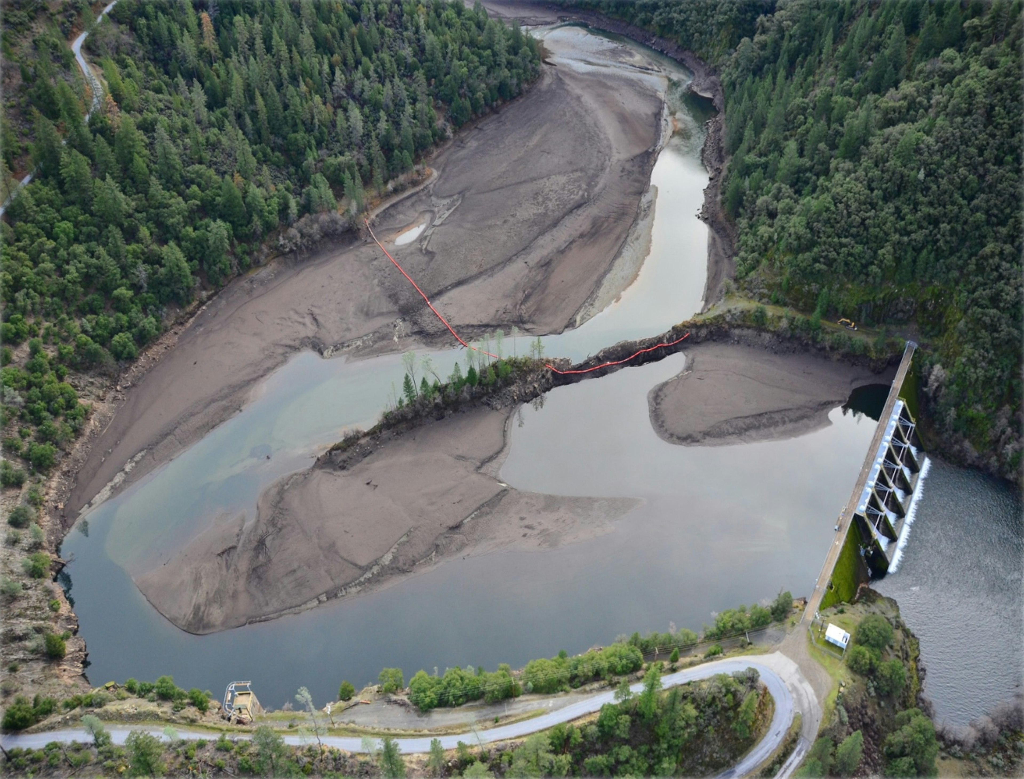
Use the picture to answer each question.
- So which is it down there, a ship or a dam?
dam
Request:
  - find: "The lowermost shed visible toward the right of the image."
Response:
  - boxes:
[825,627,851,652]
